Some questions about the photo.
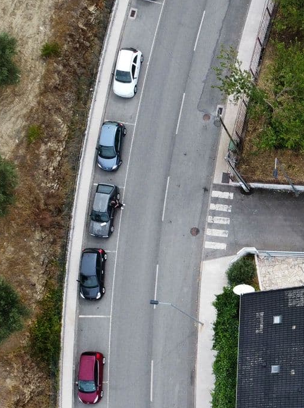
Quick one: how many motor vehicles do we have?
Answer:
5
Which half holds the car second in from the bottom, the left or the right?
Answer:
left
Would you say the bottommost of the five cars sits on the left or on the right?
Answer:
left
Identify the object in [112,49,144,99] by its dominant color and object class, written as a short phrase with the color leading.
white car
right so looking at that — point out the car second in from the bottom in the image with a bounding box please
[77,248,108,301]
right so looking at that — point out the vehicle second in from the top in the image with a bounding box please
[95,122,128,172]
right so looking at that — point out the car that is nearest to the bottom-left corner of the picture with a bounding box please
[75,352,106,403]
